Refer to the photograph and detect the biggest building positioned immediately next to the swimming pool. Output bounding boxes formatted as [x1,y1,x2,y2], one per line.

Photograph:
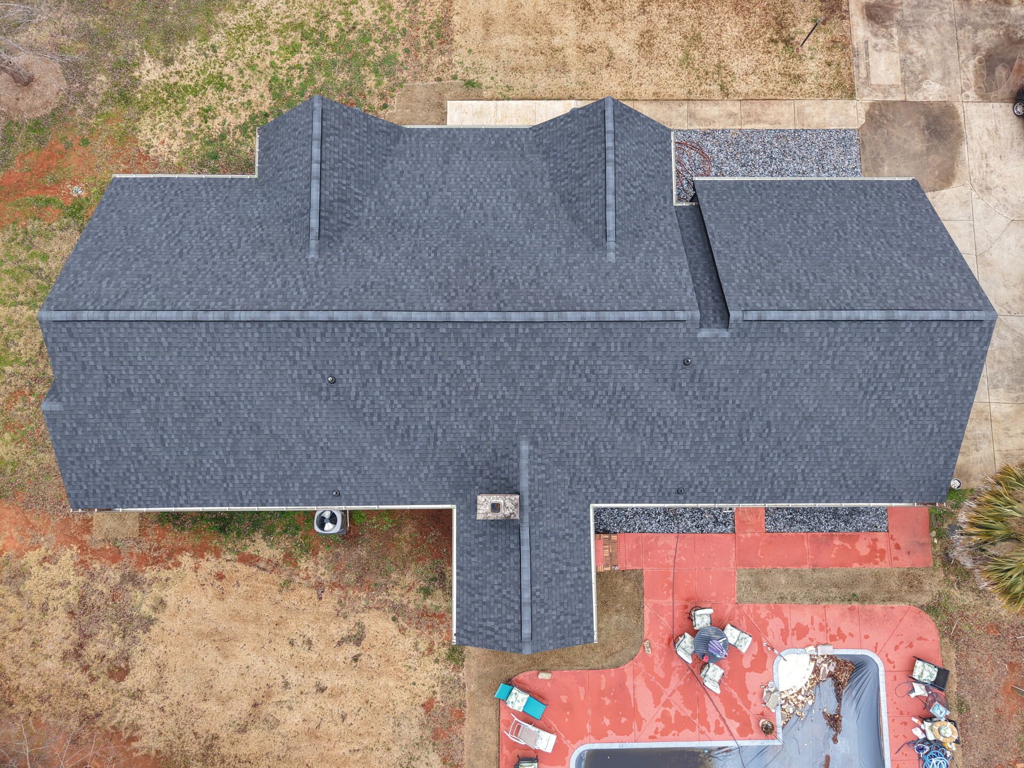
[37,95,997,654]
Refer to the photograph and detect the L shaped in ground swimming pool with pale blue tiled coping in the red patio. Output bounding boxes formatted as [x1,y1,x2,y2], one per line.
[571,649,890,768]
